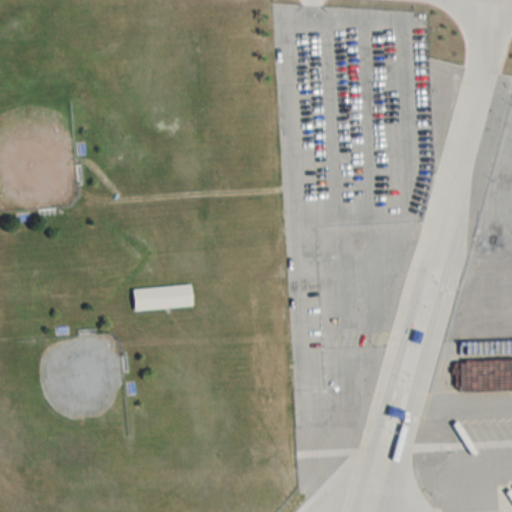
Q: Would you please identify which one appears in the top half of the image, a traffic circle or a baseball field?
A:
baseball field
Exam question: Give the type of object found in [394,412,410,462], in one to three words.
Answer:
vehicle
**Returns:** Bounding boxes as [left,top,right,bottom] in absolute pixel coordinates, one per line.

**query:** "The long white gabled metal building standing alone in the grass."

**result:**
[134,284,194,314]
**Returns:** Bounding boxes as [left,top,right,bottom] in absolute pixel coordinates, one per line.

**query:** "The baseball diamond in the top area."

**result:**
[0,106,76,210]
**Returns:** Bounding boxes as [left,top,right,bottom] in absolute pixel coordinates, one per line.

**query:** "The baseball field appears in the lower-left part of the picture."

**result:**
[39,333,122,421]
